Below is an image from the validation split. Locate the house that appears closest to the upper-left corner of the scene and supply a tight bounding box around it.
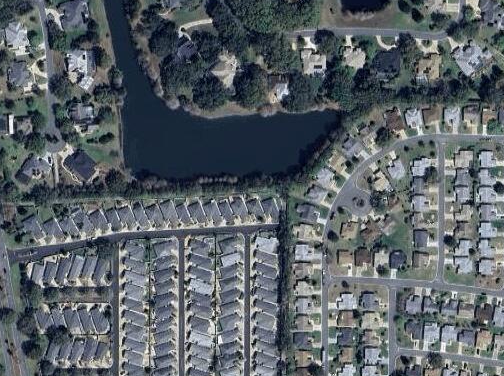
[4,21,32,48]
